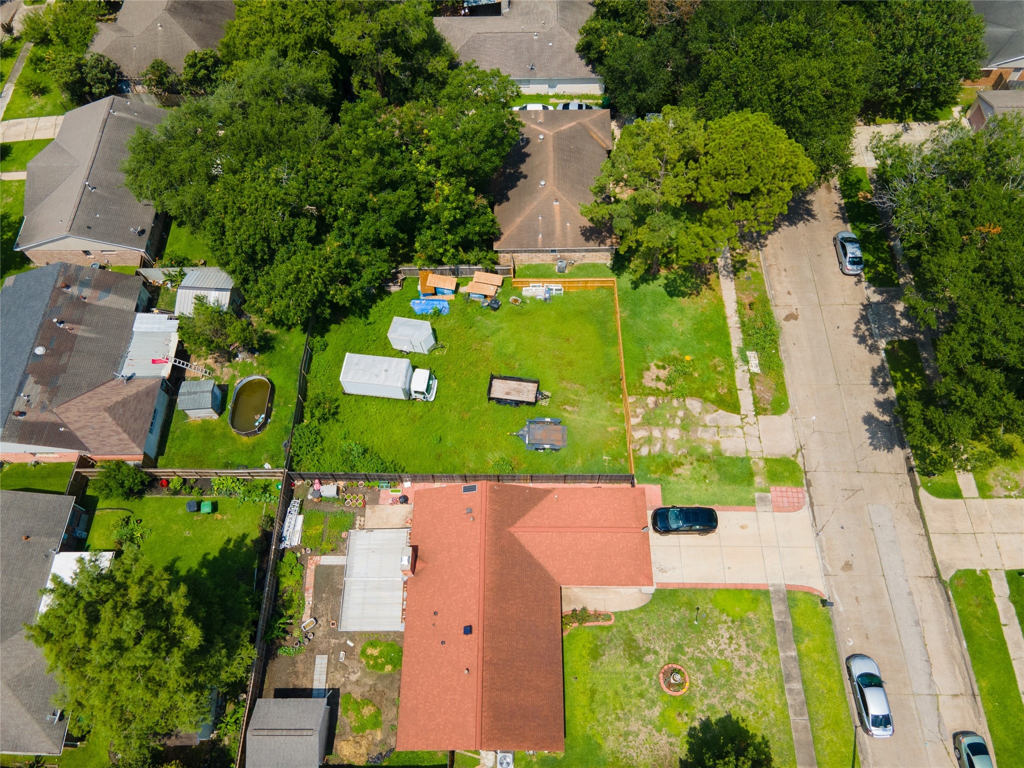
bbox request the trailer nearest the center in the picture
[487,373,553,409]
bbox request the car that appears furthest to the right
[953,730,998,768]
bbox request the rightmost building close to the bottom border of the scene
[393,479,655,750]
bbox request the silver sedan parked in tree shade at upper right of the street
[831,234,864,275]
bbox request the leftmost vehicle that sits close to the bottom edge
[845,656,891,737]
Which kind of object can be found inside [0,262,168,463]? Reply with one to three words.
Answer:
house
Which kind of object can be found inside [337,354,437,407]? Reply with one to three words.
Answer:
truck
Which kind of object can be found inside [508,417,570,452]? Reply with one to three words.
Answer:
trailer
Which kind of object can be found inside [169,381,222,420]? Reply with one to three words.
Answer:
shed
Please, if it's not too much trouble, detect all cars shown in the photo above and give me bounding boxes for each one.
[514,100,555,111]
[559,100,603,111]
[650,504,719,538]
[845,656,891,737]
[831,234,864,275]
[953,730,998,768]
